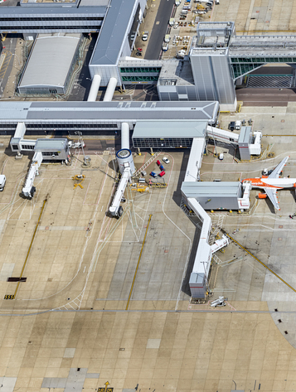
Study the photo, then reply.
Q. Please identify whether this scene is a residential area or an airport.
airport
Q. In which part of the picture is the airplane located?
right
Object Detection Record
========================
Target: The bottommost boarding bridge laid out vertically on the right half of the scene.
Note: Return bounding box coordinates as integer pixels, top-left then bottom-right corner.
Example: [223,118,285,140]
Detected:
[236,179,254,219]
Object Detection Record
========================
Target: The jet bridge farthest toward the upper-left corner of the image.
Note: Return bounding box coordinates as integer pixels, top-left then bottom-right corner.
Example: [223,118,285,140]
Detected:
[22,152,44,199]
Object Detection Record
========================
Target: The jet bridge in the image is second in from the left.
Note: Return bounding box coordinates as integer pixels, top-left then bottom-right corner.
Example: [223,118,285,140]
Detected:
[109,165,131,220]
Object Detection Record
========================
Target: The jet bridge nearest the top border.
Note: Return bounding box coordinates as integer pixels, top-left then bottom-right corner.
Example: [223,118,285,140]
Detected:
[249,128,265,164]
